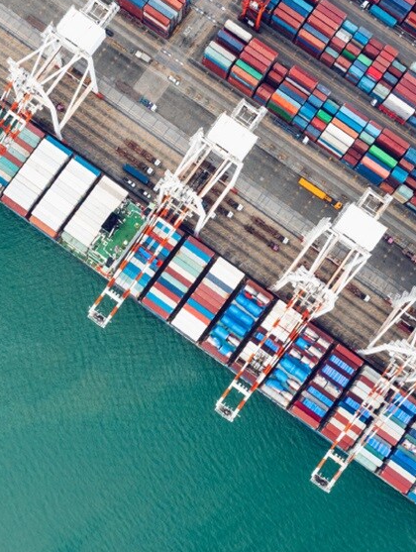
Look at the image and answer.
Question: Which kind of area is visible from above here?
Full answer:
This looks like a port.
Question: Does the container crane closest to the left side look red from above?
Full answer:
No, the container crane closest to the left side is white.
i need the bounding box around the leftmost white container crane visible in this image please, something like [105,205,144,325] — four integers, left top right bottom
[0,0,122,165]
